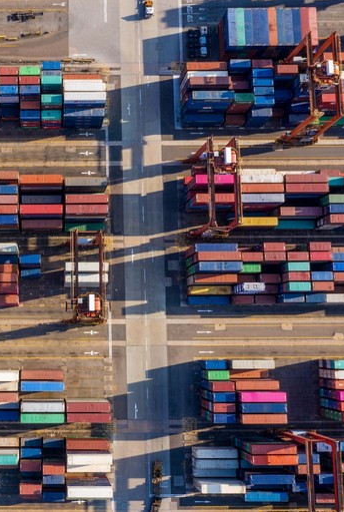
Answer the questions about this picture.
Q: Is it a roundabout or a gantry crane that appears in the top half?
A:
gantry crane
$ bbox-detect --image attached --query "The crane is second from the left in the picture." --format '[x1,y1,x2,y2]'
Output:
[184,134,243,235]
